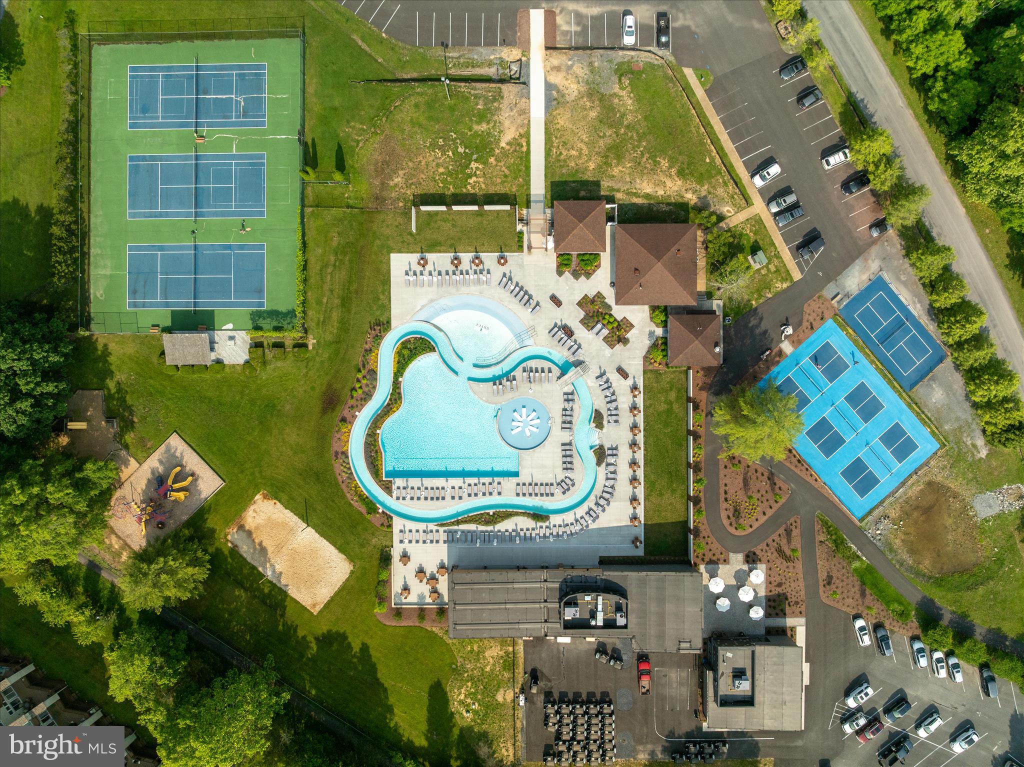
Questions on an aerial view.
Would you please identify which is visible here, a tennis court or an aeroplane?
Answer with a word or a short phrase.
tennis court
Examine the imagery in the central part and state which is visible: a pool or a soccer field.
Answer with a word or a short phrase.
pool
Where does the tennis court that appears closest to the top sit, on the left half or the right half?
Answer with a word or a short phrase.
left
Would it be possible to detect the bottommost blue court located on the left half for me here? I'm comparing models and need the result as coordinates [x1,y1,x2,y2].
[127,236,266,314]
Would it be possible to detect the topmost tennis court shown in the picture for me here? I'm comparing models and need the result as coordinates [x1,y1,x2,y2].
[128,54,267,132]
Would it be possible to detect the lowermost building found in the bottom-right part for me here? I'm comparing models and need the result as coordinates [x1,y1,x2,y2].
[703,632,803,732]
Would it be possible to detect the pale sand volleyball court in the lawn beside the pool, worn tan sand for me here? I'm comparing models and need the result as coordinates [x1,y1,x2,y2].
[226,491,353,614]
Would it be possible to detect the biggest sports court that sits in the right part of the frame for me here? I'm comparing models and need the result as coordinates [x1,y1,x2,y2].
[839,275,947,391]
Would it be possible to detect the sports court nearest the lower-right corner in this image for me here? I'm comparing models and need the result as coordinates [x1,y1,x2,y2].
[839,421,920,499]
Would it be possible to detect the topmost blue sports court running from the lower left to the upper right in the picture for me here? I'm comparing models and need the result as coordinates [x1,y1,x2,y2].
[770,340,851,416]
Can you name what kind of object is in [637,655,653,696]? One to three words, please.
vehicle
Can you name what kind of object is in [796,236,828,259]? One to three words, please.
car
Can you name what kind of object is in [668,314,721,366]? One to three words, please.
building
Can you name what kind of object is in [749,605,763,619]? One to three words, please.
umbrella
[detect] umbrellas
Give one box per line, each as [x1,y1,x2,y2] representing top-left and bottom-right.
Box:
[709,577,724,592]
[738,585,754,601]
[749,569,763,583]
[715,596,730,611]
[749,605,763,619]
